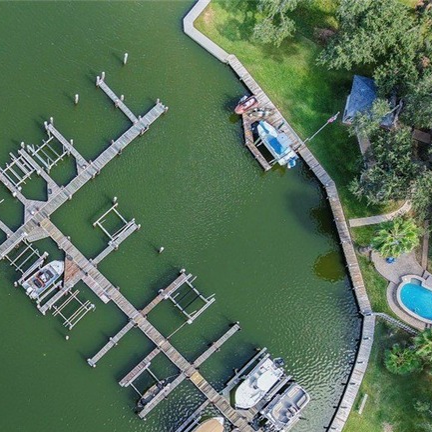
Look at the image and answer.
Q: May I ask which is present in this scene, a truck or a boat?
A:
boat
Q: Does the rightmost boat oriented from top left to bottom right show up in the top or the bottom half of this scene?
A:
top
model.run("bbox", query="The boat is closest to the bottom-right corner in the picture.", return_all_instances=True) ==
[257,385,309,431]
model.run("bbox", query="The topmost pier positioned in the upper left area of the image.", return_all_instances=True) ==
[95,71,140,124]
